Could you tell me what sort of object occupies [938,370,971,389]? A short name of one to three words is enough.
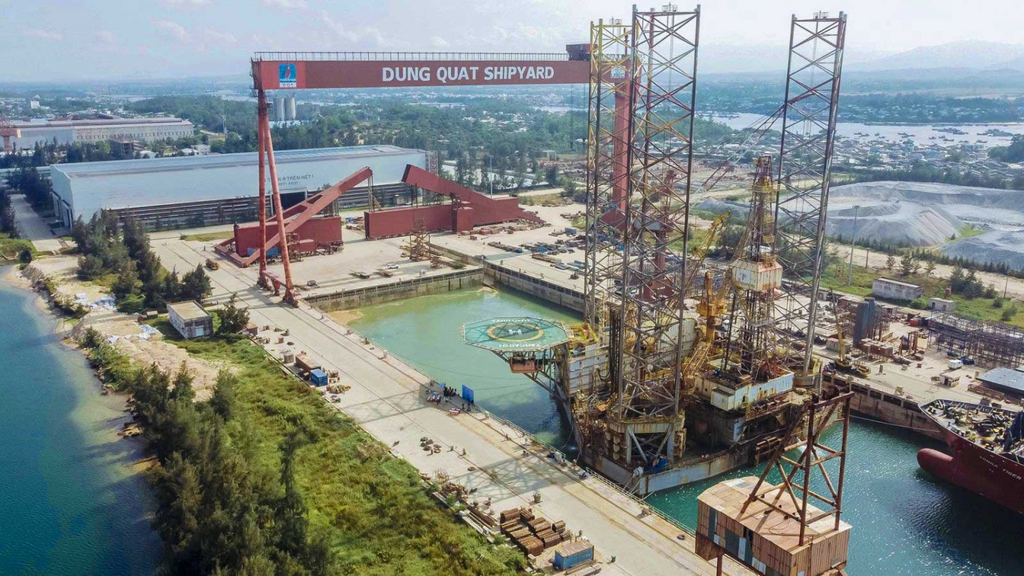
shed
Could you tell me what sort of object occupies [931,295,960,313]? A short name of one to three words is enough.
shed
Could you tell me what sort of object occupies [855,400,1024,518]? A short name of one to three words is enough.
ship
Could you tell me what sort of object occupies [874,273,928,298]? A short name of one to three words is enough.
building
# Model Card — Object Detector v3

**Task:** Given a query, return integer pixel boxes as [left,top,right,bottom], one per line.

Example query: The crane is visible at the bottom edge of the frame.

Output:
[692,372,862,576]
